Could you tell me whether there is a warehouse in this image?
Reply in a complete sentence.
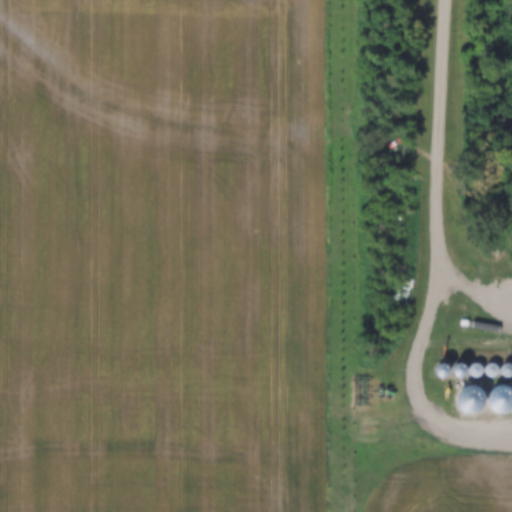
No, I can't see a single warehouse in this photo.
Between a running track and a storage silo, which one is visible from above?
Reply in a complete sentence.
This aerial view contains a storage silo.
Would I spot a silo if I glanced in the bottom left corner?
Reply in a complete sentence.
No, in the bottom left corner there is no silo.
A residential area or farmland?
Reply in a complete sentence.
What you see here is farmland.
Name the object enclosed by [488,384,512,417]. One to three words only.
silo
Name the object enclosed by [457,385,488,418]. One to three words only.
silo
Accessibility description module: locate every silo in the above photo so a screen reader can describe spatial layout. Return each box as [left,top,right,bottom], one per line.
[485,362,502,379]
[501,362,512,379]
[435,363,452,382]
[457,385,488,418]
[469,362,486,379]
[488,384,512,417]
[452,363,470,382]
